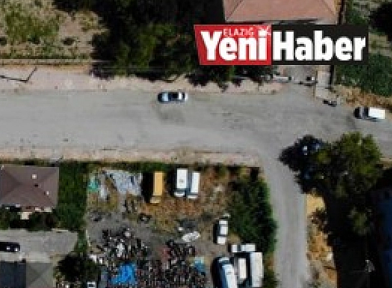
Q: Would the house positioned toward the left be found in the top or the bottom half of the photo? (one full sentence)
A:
The house positioned toward the left is in the bottom half of the image.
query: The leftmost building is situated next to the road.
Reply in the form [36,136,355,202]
[0,165,59,221]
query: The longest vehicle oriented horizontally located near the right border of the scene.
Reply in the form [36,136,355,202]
[347,108,388,122]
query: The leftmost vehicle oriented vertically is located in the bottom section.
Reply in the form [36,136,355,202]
[146,171,162,205]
